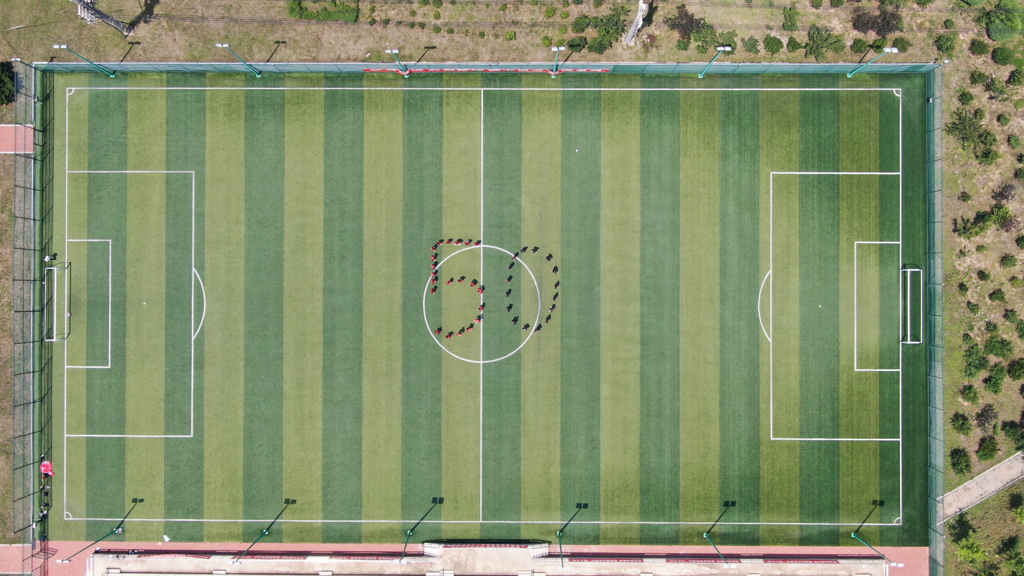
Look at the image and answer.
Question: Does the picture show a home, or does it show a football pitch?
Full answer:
I can see a football pitch in this picture.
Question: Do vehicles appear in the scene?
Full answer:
No, I find no vehicle anywhere in the image.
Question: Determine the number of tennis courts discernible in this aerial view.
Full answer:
The photo contains no tennis courts.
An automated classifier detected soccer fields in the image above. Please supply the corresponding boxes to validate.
[31,64,933,547]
